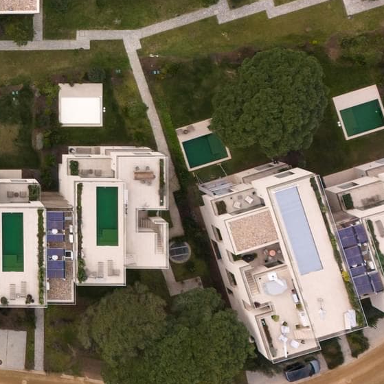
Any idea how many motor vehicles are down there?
one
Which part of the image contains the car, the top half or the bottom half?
bottom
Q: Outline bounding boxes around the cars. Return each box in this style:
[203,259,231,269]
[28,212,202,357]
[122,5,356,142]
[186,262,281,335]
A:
[282,359,322,381]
